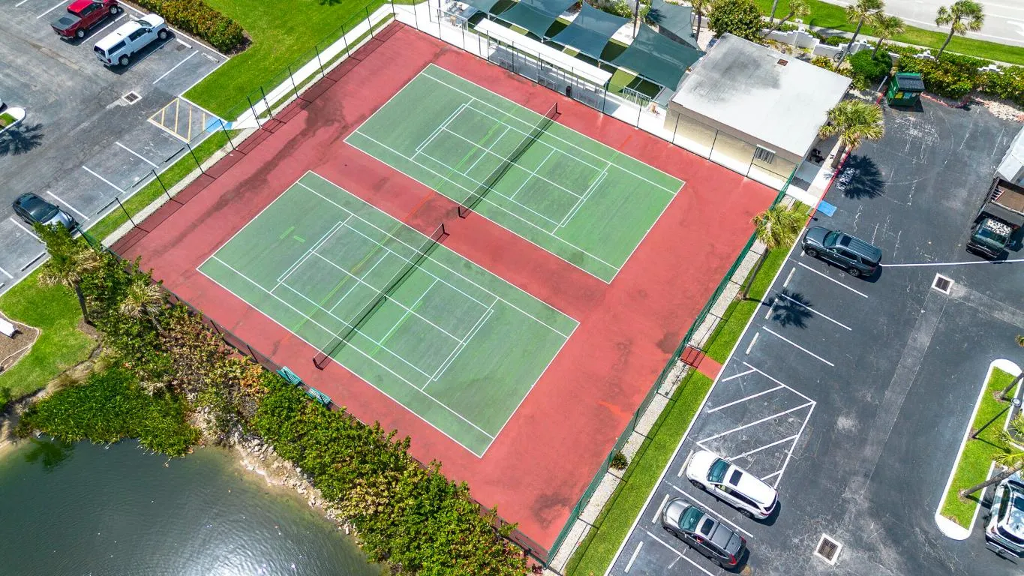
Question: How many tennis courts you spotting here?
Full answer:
In total, 2 tennis courts can be seen.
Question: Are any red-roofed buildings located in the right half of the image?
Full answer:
No, no red-roofed building is visible in the right half of the image.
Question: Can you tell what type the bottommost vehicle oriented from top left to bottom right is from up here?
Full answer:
In the photo, the bottommost vehicle oriented from top left to bottom right shows up as an automobile.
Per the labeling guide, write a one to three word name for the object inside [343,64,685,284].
tennis court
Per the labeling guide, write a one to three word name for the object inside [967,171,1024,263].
truck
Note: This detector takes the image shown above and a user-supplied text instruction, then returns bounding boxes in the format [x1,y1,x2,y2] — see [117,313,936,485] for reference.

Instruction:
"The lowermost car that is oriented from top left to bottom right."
[660,499,748,571]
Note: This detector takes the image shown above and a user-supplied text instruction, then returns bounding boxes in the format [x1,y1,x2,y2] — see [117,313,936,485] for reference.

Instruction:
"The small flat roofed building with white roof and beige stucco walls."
[666,31,855,181]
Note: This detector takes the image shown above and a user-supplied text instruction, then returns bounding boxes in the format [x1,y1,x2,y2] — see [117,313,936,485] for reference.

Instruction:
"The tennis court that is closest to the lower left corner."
[197,170,581,458]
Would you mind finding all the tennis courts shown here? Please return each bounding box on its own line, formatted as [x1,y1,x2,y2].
[343,64,685,284]
[197,170,581,458]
